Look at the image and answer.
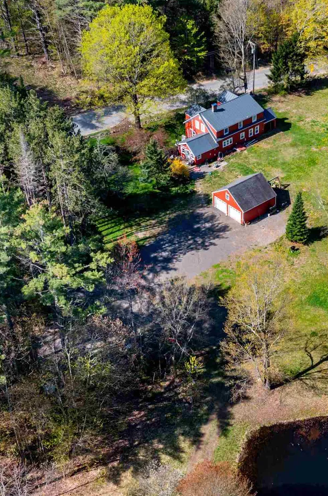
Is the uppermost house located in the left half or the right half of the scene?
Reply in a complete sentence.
The uppermost house is on the right side of the image.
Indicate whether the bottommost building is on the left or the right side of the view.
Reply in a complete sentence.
You can find the bottommost building on the right side of the picture.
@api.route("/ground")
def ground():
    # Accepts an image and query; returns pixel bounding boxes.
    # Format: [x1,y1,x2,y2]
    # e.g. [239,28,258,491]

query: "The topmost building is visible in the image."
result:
[177,90,279,164]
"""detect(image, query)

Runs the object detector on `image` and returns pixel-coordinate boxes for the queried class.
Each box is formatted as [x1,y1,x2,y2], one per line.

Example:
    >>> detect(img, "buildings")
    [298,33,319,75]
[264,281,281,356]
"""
[211,171,277,224]
[177,90,279,164]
